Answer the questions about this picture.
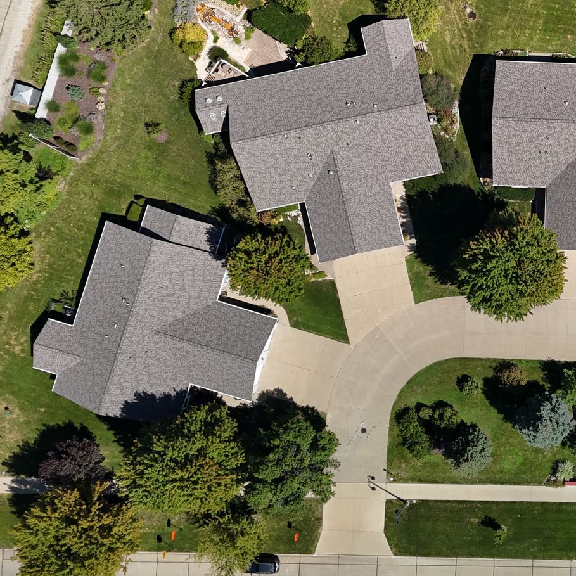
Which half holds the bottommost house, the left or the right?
left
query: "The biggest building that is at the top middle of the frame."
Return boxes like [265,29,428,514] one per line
[195,19,443,264]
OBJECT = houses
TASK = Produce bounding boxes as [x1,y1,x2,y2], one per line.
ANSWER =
[492,61,576,251]
[32,204,281,424]
[195,19,443,264]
